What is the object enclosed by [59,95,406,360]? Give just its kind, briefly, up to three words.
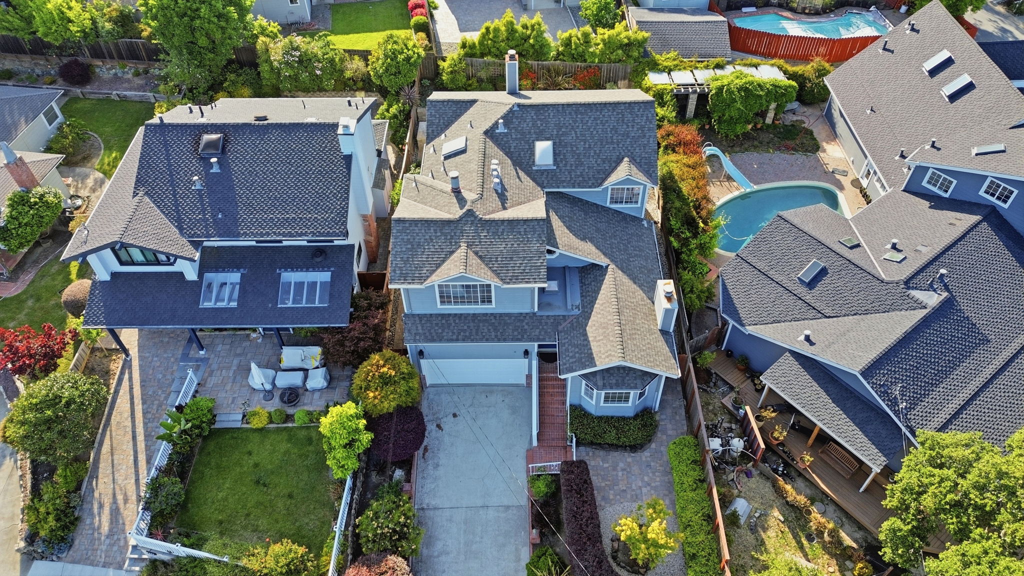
house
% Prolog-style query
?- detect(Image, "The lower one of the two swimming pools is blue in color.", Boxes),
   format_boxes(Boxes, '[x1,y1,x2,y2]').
[713,181,854,259]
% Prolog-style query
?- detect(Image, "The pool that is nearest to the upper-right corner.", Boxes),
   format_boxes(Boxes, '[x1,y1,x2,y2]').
[732,9,891,46]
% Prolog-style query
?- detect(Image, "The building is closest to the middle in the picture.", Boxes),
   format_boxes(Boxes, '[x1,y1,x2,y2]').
[388,47,684,423]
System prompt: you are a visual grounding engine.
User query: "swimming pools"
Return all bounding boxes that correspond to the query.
[713,181,854,259]
[732,9,891,46]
